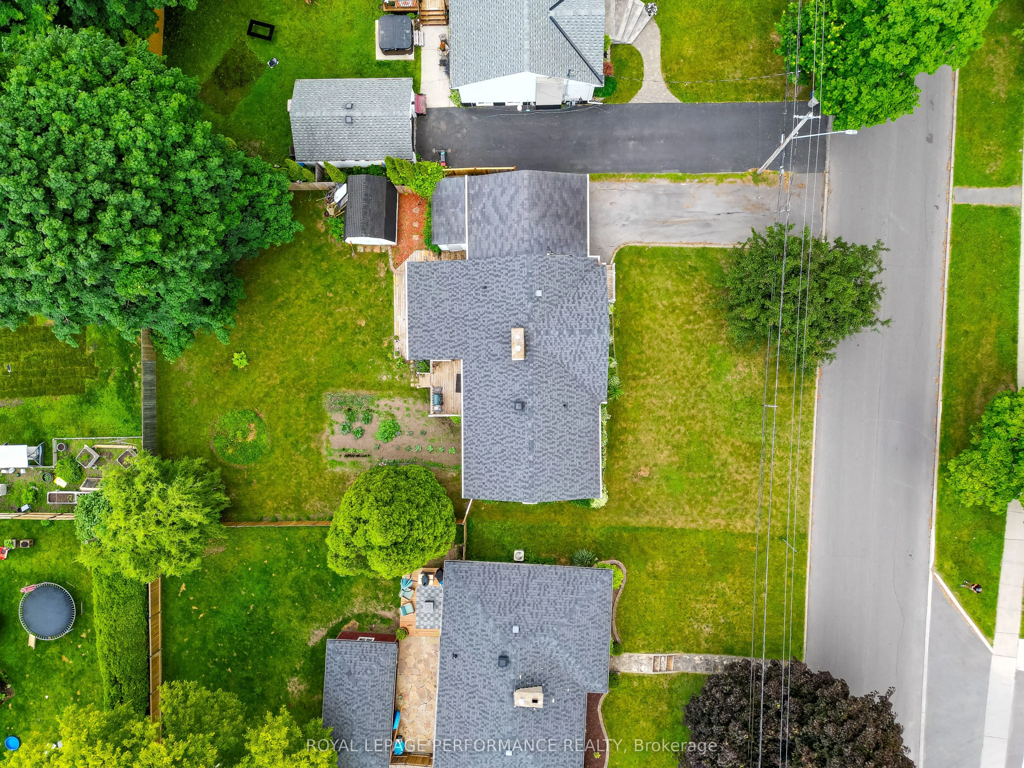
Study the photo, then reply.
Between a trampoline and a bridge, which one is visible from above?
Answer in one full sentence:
I can see a trampoline in this picture.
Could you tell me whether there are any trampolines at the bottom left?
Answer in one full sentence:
Yes, at the bottom left there is a trampoline.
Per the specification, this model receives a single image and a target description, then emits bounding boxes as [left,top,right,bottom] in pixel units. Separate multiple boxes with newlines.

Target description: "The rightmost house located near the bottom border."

[432,557,613,768]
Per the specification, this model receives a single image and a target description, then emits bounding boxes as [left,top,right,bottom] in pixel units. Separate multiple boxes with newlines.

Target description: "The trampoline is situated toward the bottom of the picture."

[18,583,80,640]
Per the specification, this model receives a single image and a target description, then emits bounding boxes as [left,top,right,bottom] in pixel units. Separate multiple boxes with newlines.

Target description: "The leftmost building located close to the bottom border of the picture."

[324,631,400,768]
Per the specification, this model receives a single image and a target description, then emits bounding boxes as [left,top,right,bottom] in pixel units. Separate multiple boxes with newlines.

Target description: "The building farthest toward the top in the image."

[448,0,608,111]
